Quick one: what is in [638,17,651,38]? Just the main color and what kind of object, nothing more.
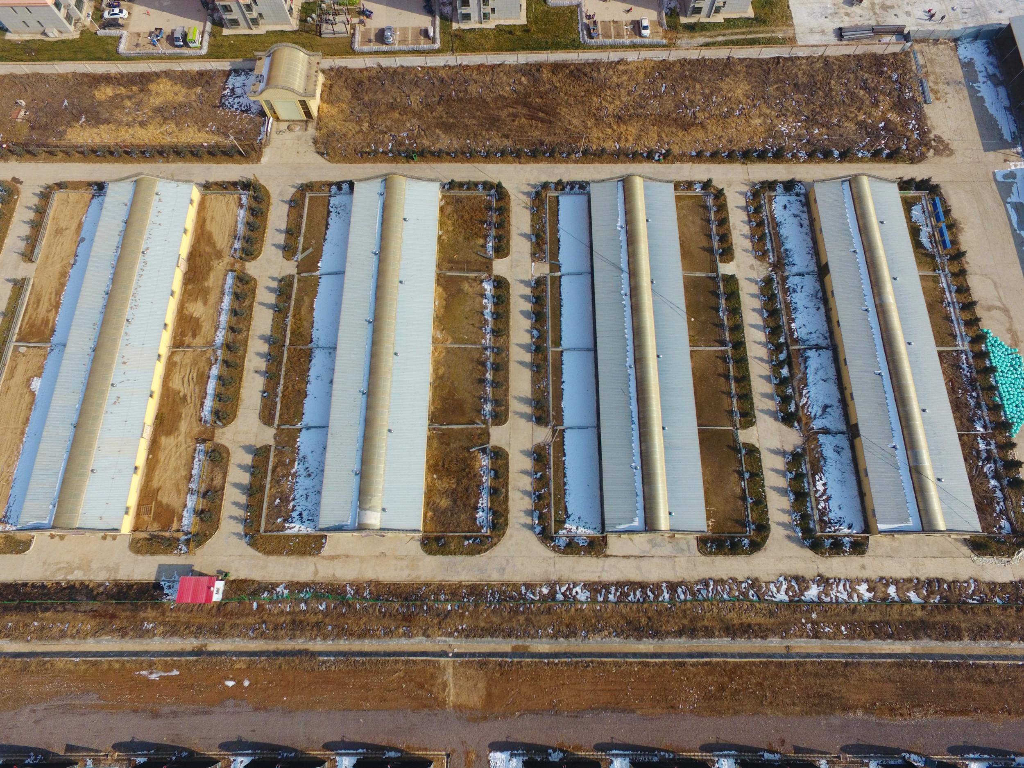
white vehicle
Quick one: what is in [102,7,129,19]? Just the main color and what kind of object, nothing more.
white vehicle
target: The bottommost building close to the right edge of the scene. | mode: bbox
[805,172,986,536]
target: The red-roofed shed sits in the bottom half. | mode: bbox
[177,575,223,603]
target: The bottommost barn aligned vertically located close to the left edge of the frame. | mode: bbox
[15,172,200,536]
